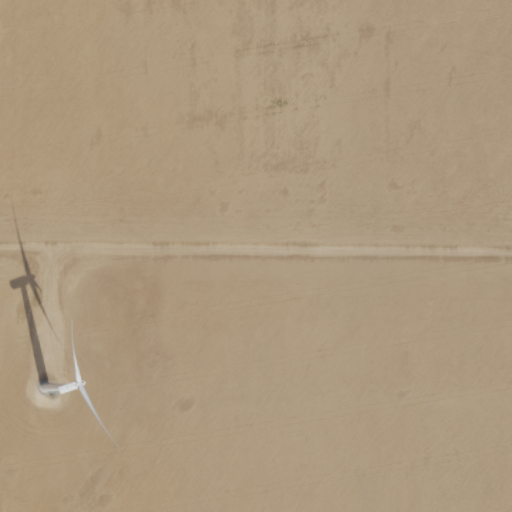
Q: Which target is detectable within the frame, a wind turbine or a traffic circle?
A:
wind turbine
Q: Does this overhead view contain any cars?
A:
No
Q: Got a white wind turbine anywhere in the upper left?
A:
No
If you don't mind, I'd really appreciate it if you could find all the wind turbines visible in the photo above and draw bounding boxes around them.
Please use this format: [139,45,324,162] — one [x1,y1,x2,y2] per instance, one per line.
[40,316,116,439]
